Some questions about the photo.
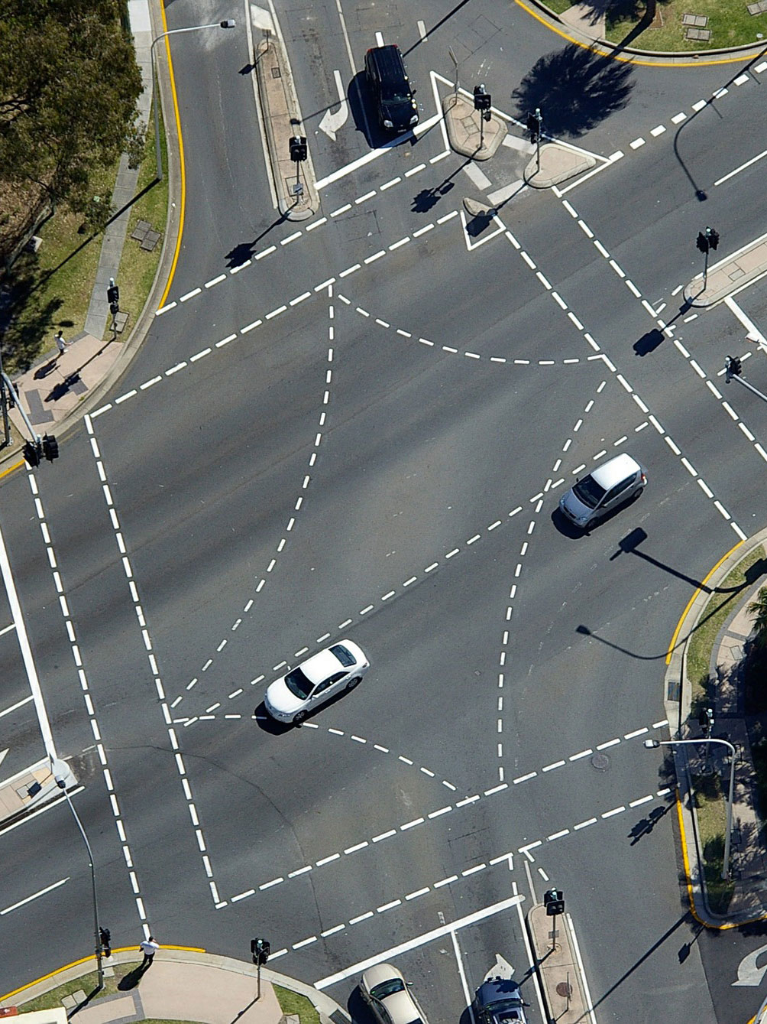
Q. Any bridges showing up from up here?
No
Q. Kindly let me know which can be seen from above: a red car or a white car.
white car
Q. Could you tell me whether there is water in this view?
No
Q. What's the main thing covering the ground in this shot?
paved ground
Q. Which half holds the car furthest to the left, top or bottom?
bottom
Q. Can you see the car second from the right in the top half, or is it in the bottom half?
bottom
